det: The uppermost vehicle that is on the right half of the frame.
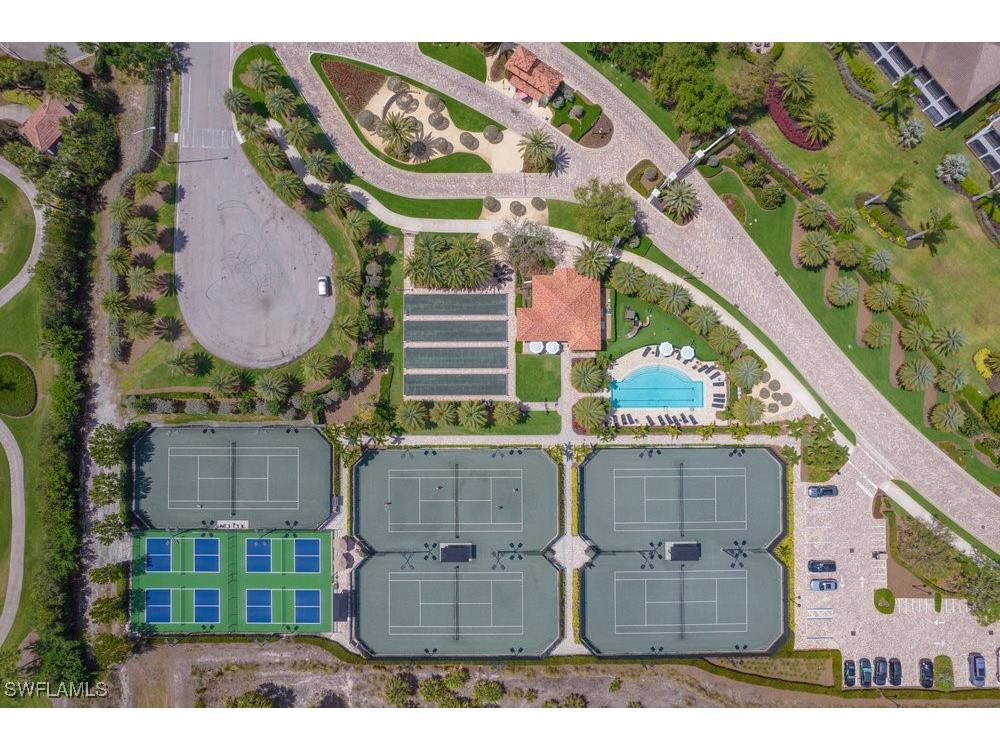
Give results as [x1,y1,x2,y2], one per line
[808,484,838,498]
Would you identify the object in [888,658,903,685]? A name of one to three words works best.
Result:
car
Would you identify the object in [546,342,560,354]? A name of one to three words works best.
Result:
umbrella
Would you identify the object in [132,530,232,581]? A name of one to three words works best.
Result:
sports court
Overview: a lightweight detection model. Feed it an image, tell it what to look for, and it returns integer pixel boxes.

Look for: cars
[842,659,856,686]
[968,654,986,685]
[918,659,935,686]
[808,560,836,573]
[810,579,837,592]
[316,276,328,297]
[808,484,838,498]
[857,658,872,686]
[888,658,903,685]
[872,657,888,684]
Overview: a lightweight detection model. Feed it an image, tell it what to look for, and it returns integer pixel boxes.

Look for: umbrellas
[681,346,694,360]
[333,556,349,571]
[529,342,543,354]
[546,342,560,354]
[659,342,674,356]
[333,537,349,552]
